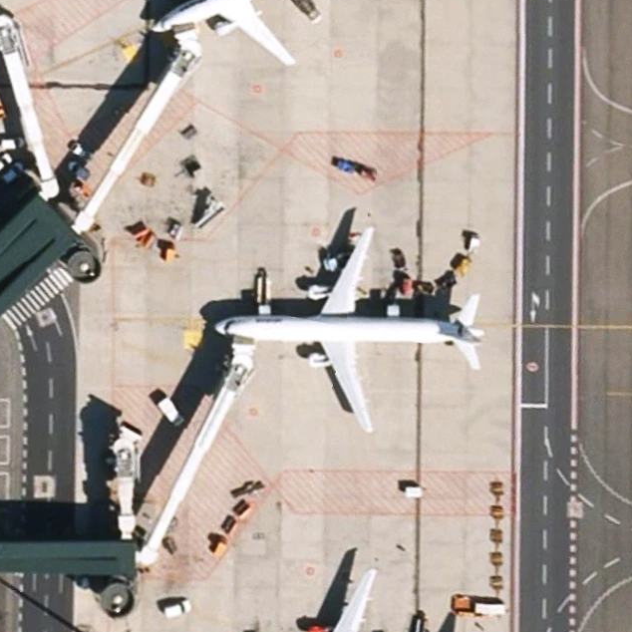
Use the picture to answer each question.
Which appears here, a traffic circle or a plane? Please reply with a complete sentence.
Of the two, only a plane appears.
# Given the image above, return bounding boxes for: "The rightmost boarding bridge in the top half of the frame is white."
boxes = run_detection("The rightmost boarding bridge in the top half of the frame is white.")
[74,22,197,242]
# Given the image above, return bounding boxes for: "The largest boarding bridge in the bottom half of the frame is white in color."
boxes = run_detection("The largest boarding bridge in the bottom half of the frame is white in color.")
[135,337,252,560]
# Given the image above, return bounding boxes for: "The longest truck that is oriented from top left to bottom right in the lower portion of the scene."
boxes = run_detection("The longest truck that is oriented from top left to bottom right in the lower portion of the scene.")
[149,388,180,426]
